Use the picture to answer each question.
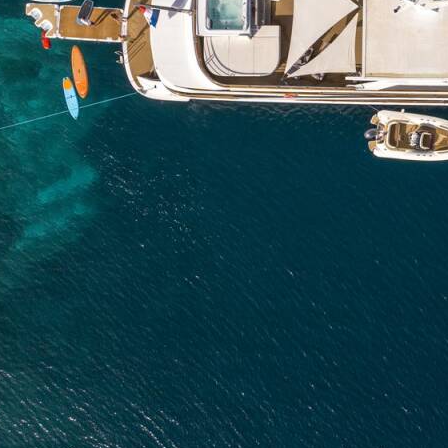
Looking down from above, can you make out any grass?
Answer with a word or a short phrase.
No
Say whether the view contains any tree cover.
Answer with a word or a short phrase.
No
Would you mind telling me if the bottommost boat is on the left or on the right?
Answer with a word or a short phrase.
right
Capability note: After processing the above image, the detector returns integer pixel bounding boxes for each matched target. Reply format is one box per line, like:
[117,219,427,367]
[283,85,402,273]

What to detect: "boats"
[364,110,448,161]
[109,0,448,105]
